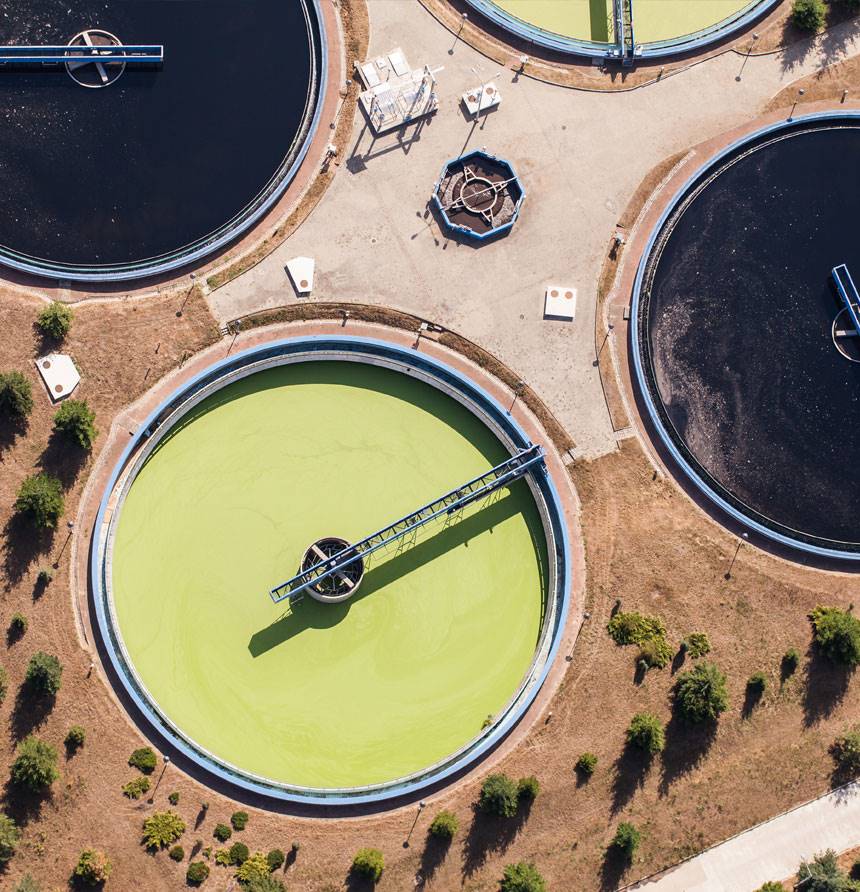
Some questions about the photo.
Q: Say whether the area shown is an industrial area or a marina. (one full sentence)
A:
The picture captures an industrial area.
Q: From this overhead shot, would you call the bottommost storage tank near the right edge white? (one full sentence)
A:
No, from above the bottommost storage tank near the right edge looks black.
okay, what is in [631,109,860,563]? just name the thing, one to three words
storage tank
